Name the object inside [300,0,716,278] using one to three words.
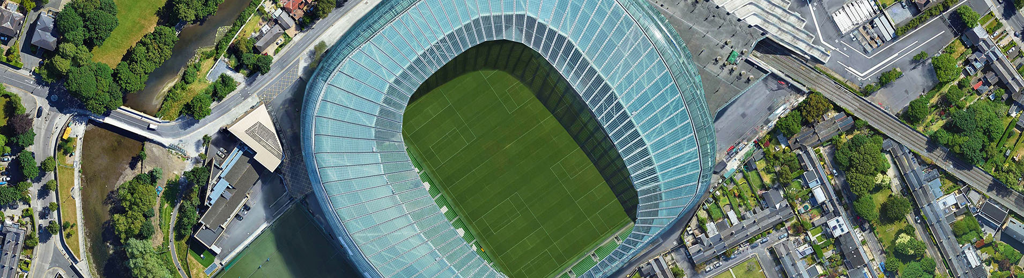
stadium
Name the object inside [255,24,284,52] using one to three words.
house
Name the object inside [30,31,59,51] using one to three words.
house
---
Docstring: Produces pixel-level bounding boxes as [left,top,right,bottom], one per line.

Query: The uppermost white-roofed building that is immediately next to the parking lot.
[227,103,286,173]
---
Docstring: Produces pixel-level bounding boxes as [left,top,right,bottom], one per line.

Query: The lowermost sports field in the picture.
[219,207,359,278]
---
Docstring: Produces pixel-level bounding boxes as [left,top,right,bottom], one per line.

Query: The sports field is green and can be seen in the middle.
[401,39,639,278]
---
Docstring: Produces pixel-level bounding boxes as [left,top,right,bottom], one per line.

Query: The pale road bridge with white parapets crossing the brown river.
[87,106,168,148]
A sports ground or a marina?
sports ground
